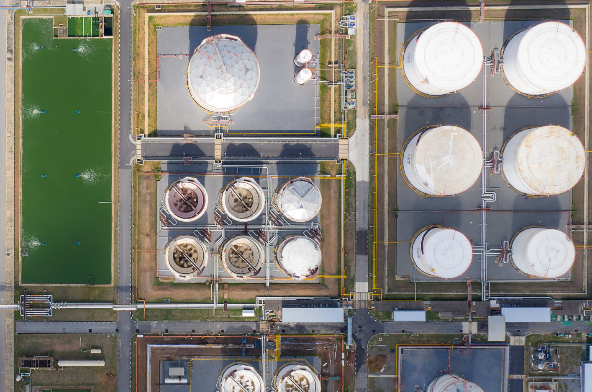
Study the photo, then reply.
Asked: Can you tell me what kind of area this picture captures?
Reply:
industrial area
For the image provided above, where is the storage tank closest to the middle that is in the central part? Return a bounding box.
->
[269,174,322,225]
